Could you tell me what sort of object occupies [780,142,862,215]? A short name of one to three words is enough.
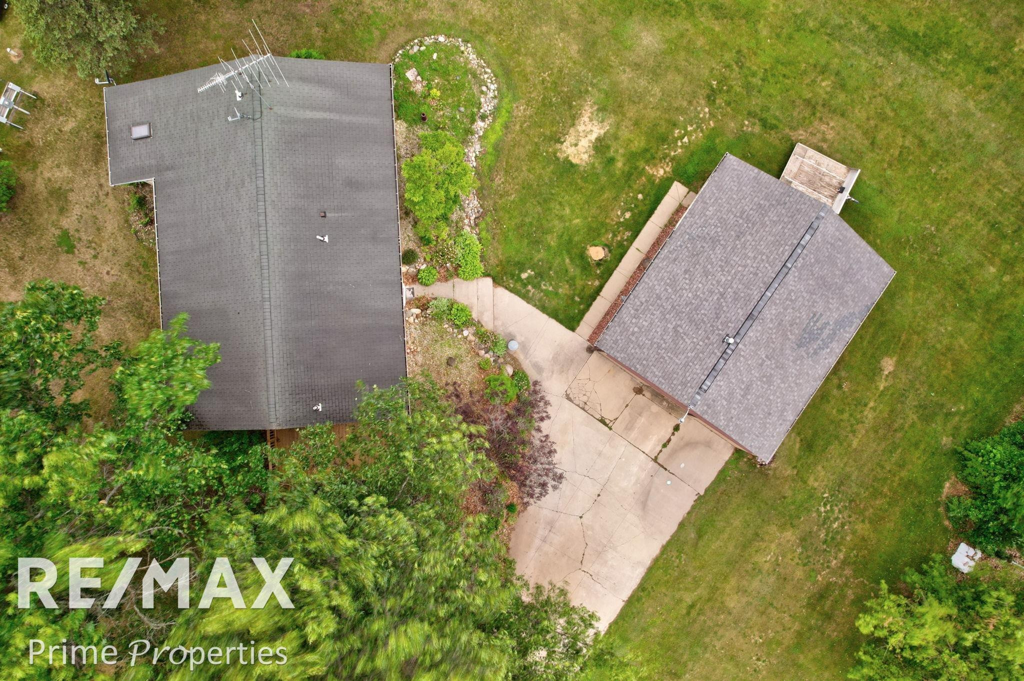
trailer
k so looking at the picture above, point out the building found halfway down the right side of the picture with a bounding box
[593,154,898,463]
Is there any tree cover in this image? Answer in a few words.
Yes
